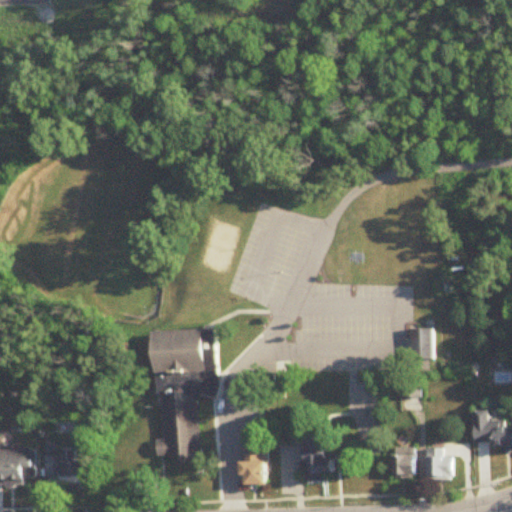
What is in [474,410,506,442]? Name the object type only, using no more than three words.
house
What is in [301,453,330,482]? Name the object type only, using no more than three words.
house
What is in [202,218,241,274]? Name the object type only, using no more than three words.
sports court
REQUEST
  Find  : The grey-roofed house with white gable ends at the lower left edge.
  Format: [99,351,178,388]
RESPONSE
[0,449,32,486]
